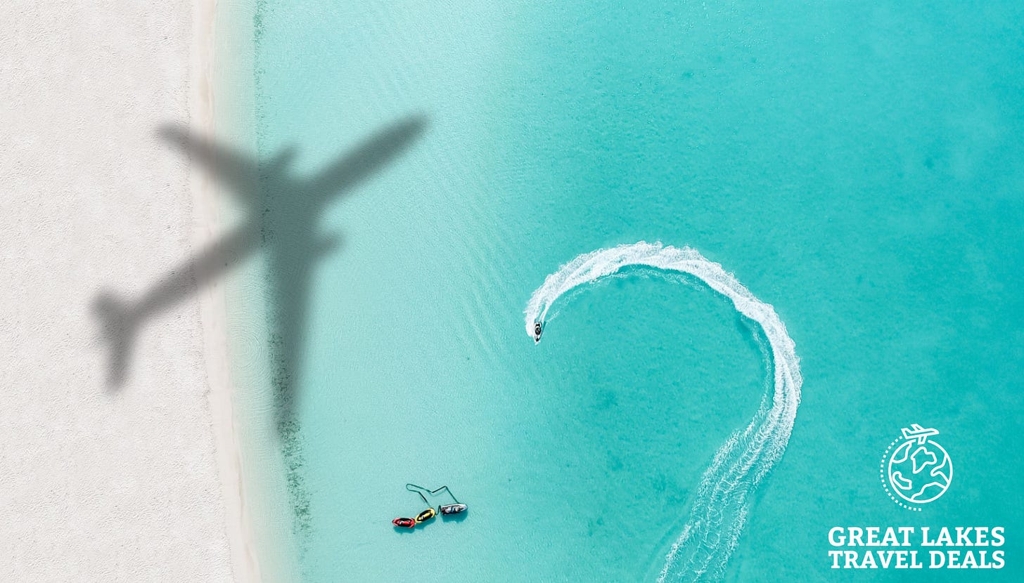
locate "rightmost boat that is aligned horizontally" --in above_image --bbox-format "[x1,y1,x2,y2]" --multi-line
[440,504,467,516]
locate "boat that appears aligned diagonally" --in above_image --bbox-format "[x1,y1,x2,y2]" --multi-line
[415,508,436,524]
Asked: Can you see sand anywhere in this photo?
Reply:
Yes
